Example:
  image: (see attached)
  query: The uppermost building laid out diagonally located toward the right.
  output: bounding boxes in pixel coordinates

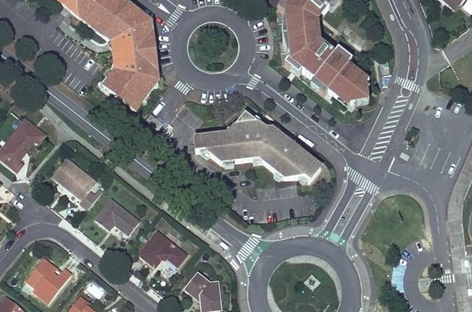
[278,0,369,115]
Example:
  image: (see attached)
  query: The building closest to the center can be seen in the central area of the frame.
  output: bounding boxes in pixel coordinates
[196,111,322,188]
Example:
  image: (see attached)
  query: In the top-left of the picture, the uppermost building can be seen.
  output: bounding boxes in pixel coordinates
[54,0,160,116]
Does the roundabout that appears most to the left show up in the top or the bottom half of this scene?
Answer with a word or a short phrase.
top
